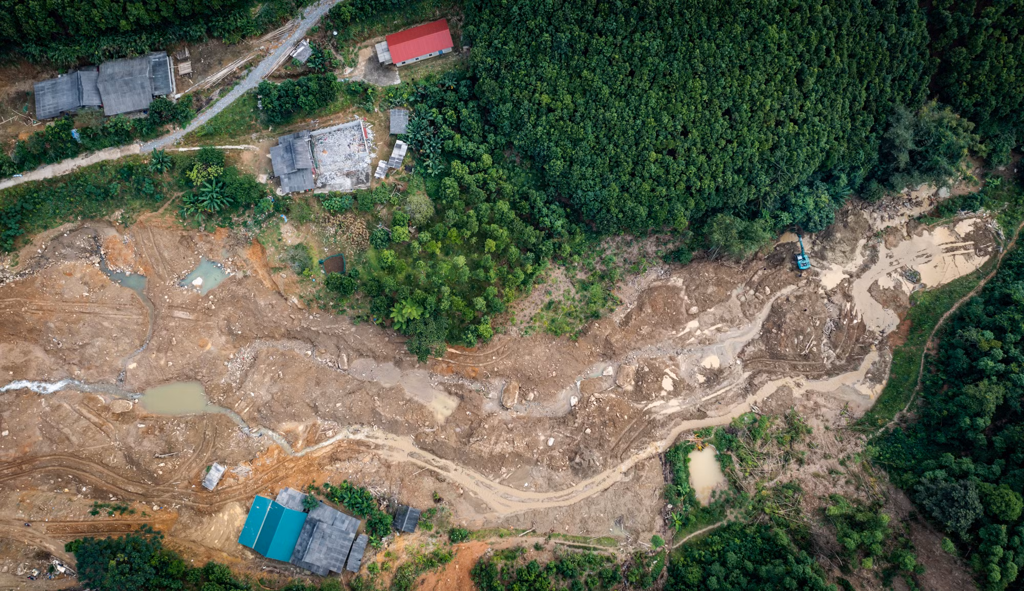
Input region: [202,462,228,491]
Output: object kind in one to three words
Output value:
shed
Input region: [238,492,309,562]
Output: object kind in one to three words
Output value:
house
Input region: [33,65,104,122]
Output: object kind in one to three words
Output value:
house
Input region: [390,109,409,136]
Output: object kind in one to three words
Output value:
shed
